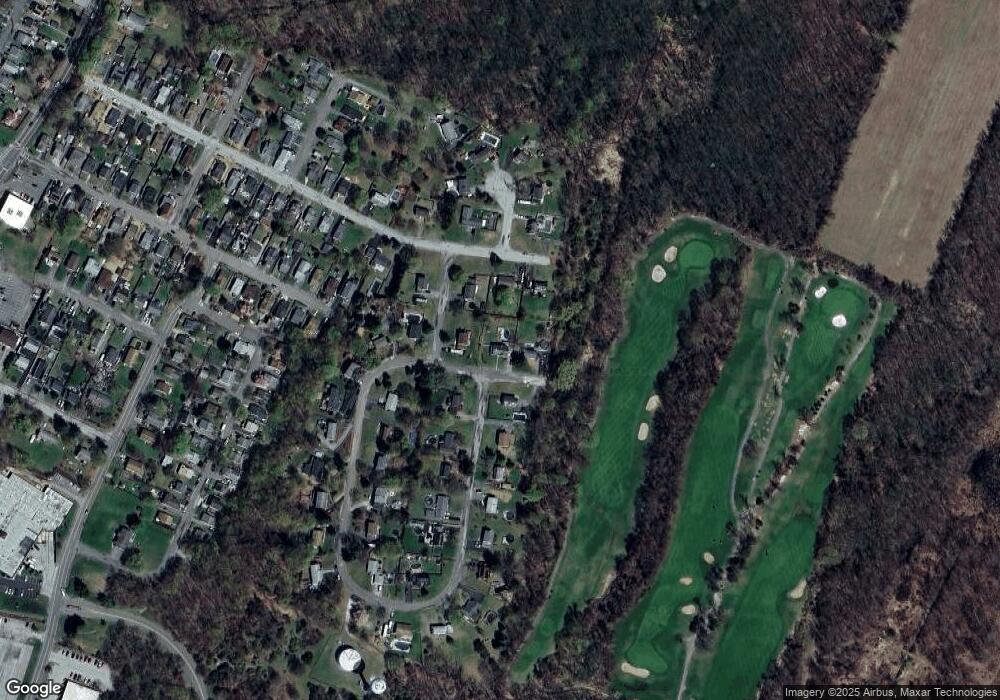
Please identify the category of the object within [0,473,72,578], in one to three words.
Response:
building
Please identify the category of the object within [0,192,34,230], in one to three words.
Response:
building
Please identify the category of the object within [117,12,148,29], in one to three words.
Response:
house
